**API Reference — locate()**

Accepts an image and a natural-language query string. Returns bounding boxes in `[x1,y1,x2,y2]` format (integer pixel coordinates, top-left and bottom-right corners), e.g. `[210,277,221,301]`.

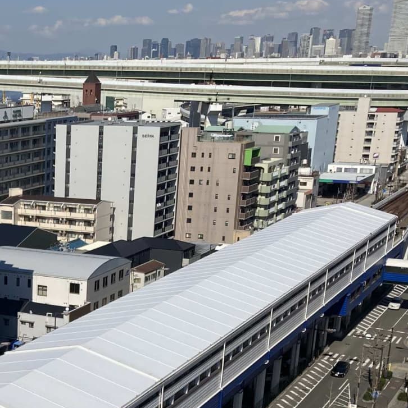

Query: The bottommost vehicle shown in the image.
[327,359,347,374]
